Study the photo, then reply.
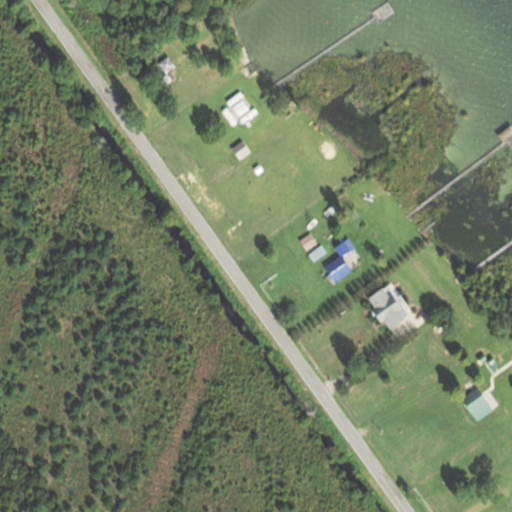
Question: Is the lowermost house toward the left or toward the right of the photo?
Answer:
right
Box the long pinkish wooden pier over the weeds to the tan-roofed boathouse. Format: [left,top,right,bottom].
[406,140,512,218]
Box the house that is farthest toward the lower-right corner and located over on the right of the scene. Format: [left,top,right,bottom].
[462,382,494,422]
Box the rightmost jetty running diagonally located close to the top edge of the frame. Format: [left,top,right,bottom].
[274,3,394,85]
